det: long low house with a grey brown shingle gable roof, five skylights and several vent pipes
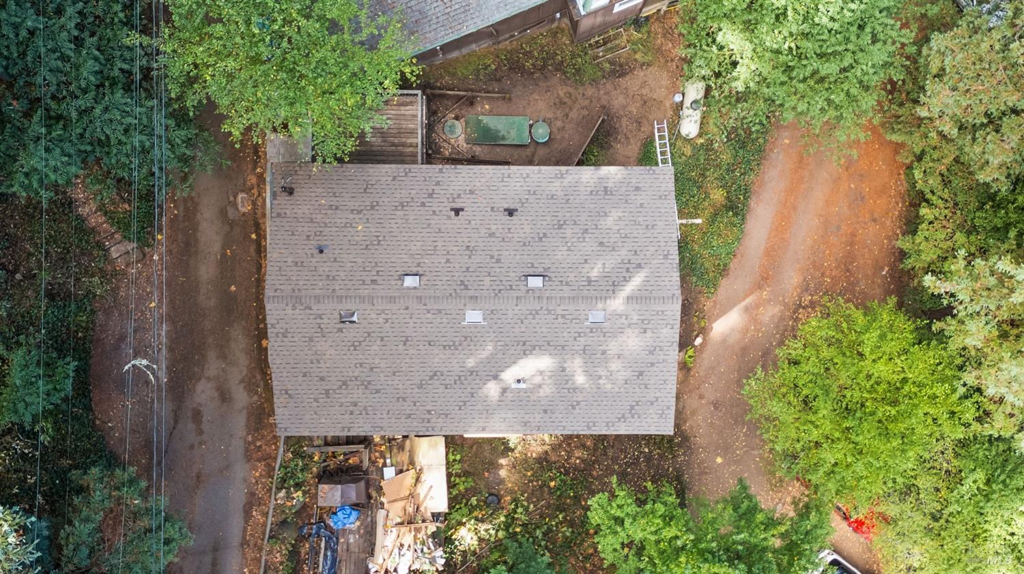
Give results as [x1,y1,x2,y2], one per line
[263,164,682,437]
